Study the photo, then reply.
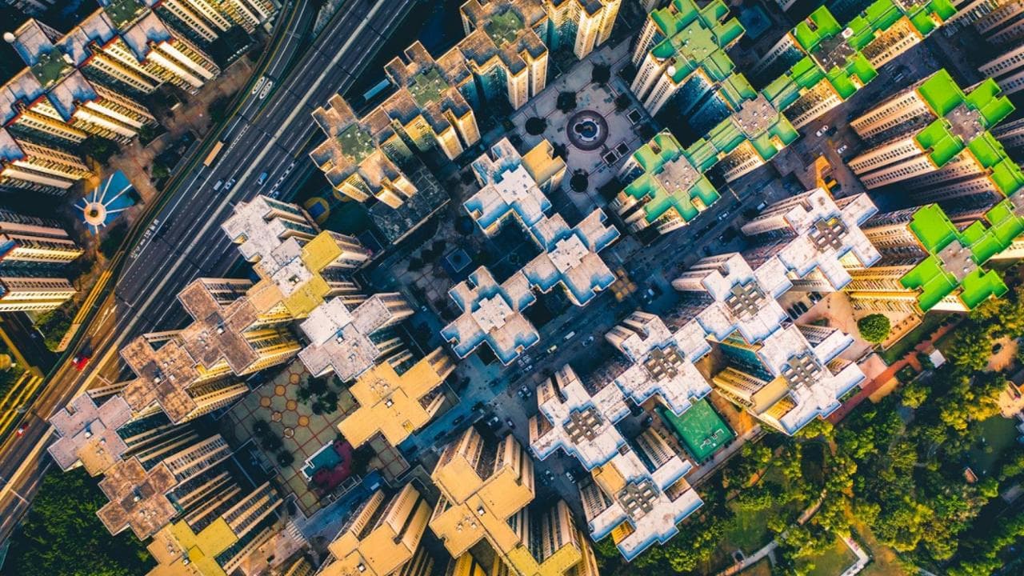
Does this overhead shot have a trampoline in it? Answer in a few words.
No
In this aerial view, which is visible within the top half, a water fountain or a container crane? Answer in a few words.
water fountain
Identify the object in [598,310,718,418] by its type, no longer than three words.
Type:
building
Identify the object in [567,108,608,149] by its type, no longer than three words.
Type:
fountain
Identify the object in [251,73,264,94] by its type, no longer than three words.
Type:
vehicle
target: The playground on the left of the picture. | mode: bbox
[297,175,373,240]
